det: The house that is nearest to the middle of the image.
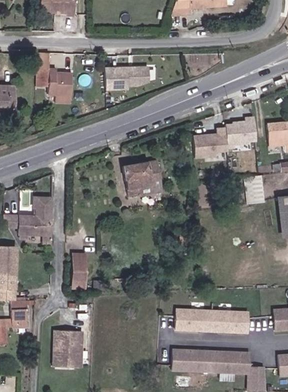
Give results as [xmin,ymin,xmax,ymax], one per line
[124,161,164,198]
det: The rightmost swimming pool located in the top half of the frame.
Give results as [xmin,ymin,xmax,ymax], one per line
[78,74,93,88]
